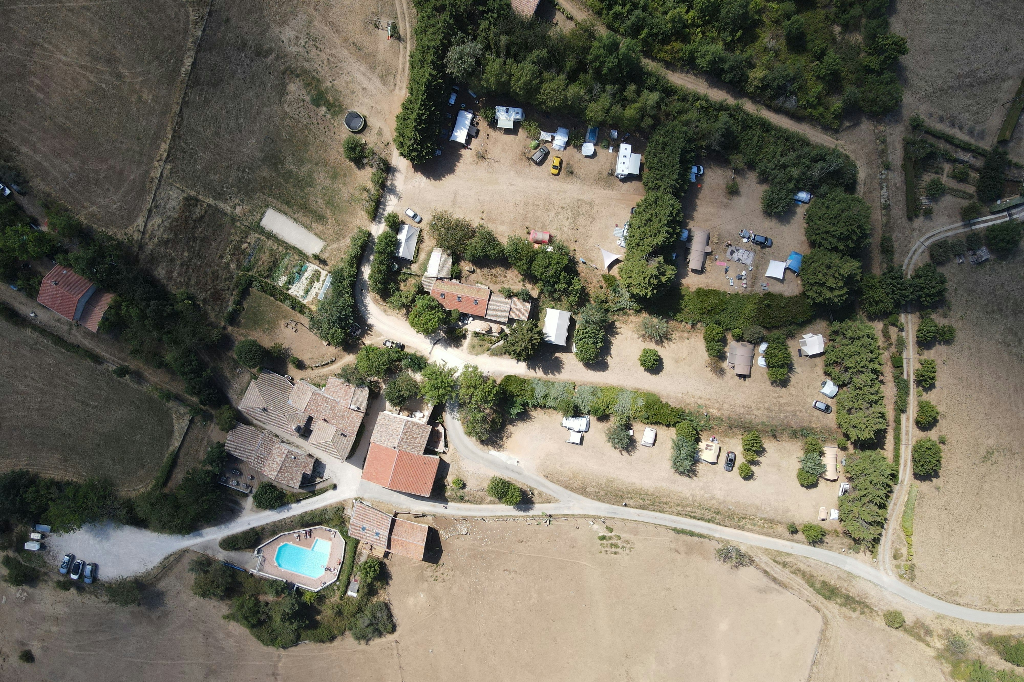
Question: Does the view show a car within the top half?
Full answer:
Yes, looking within the top half, one can make out a car.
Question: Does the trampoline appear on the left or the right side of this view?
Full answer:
It is on the left.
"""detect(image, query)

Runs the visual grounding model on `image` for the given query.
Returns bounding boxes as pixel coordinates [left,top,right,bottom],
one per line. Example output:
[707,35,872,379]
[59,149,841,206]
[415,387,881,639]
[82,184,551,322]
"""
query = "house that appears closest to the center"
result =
[421,248,531,322]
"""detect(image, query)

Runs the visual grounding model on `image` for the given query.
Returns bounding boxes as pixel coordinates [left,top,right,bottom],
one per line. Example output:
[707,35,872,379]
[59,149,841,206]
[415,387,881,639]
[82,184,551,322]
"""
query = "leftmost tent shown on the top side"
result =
[396,224,420,261]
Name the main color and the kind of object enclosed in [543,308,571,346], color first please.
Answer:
white tent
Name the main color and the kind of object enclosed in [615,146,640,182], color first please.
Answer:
white camper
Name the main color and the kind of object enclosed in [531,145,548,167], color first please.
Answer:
gray car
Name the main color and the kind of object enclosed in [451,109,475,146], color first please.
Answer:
white tent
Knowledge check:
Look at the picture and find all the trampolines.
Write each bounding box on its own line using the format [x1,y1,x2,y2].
[342,108,365,131]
